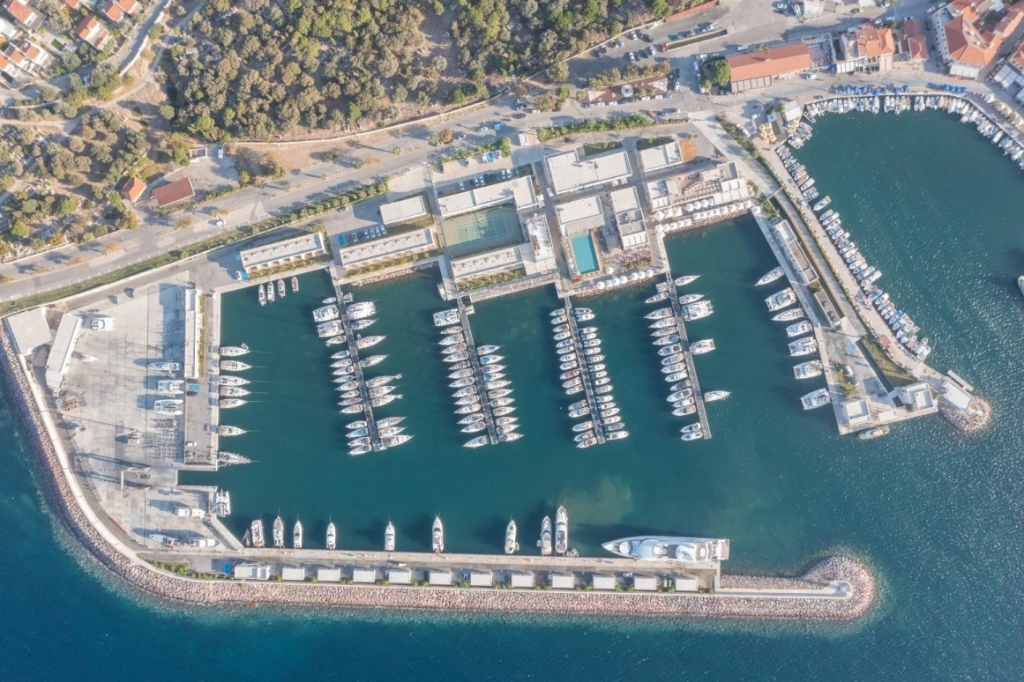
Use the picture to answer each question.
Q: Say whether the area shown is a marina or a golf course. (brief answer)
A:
marina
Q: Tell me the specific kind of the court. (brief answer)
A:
tennis court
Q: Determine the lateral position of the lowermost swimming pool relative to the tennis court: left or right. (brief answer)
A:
on its right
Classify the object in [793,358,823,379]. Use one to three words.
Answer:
boat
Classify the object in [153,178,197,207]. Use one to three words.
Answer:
house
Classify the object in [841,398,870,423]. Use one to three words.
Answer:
building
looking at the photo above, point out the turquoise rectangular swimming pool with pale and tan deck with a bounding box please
[563,230,606,285]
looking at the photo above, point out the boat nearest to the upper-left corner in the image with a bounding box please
[92,318,117,330]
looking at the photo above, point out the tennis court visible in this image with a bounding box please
[442,202,522,258]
